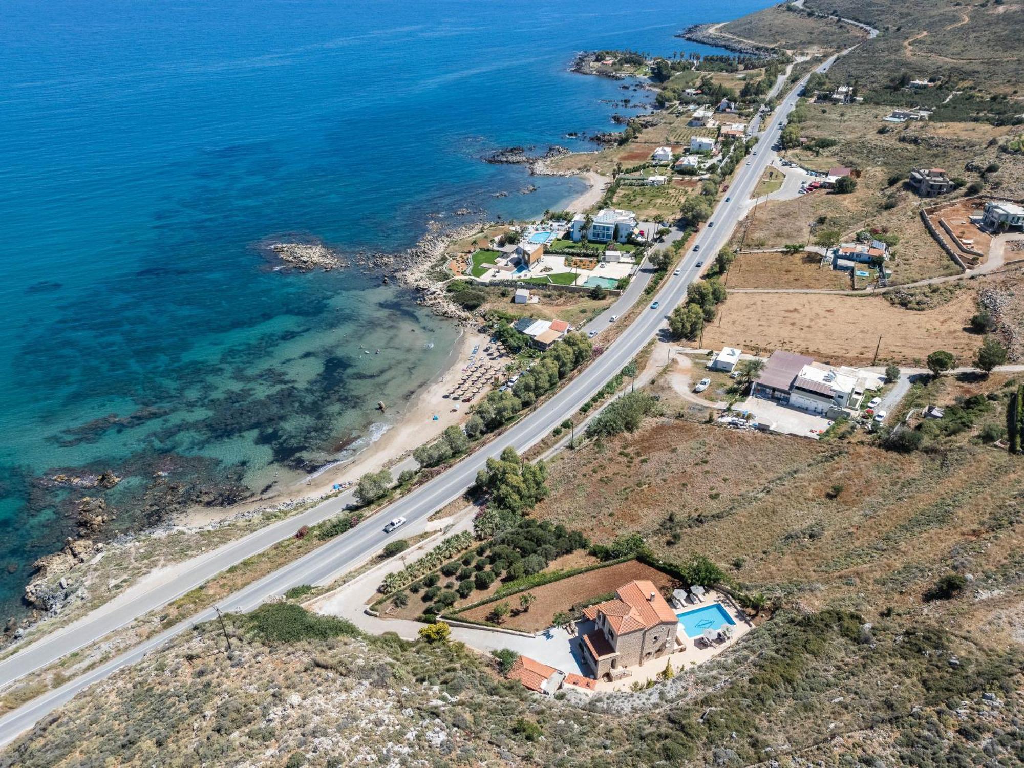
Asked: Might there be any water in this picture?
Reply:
Yes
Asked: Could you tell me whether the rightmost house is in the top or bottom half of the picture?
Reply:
top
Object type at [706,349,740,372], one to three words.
house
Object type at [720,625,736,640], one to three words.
umbrella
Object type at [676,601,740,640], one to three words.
swimming pool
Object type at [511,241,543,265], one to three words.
building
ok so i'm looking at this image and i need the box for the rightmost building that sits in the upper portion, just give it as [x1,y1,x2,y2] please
[962,205,1024,238]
